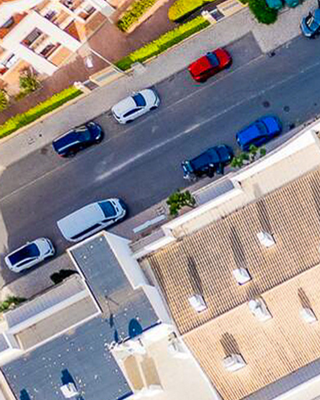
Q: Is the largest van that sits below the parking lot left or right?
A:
left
